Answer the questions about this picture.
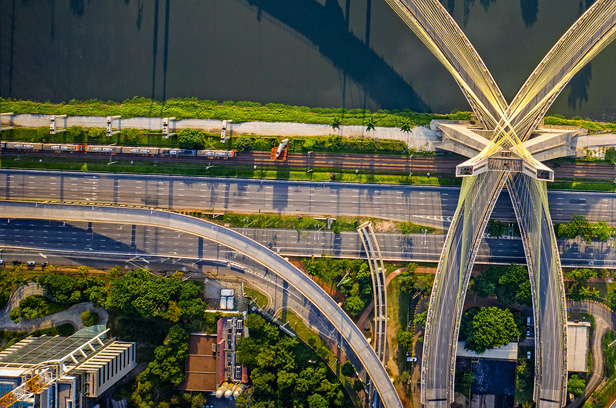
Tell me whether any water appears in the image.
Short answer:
Yes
